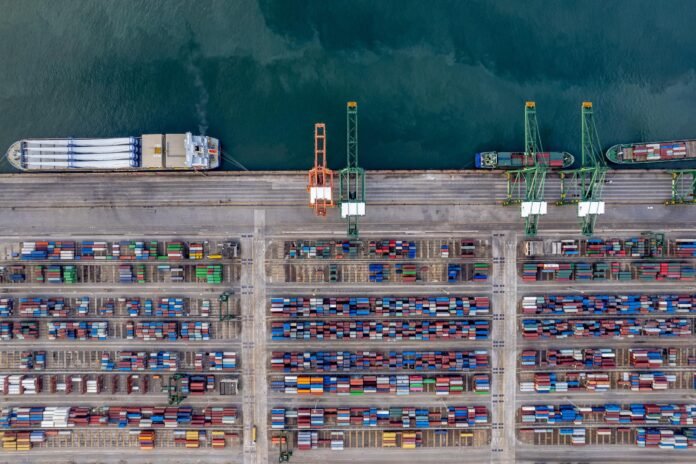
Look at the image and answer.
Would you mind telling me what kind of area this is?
port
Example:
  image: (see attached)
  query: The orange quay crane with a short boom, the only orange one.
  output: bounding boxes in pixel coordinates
[304,124,335,216]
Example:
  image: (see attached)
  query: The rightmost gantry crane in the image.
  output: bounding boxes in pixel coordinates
[661,168,696,217]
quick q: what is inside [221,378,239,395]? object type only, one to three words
shed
